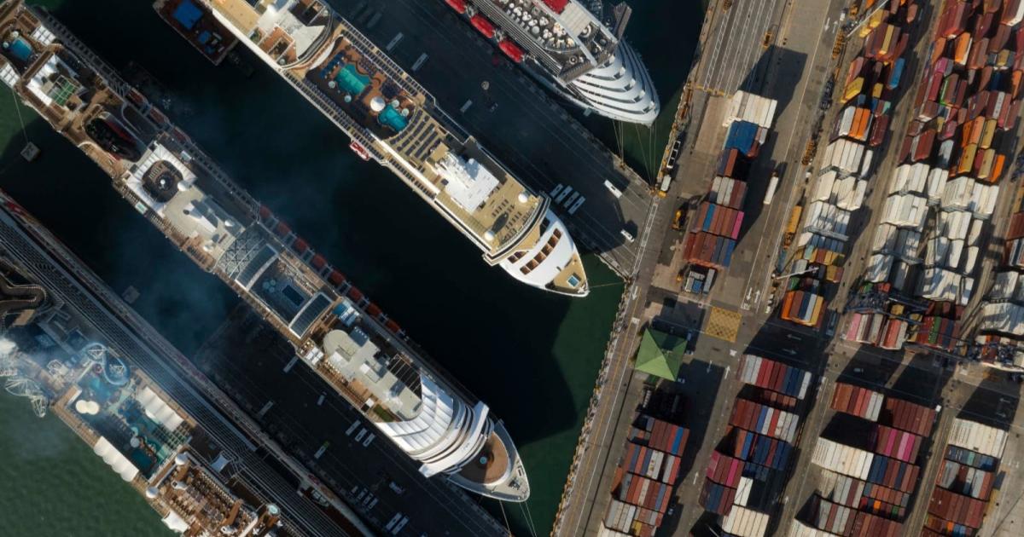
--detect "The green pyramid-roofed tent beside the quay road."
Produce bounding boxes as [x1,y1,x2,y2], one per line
[633,328,688,381]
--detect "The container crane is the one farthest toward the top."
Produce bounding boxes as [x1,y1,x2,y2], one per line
[825,286,963,344]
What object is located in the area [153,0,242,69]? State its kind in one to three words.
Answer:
ship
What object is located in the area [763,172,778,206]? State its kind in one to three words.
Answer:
vehicle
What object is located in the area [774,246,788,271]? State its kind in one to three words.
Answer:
vehicle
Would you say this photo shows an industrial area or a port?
port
